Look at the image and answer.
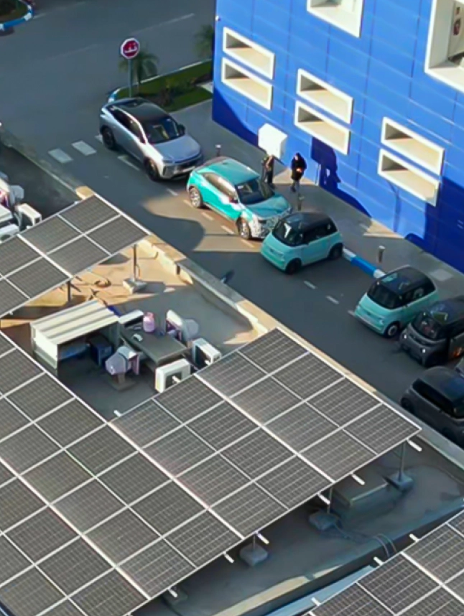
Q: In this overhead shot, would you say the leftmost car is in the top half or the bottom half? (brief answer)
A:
top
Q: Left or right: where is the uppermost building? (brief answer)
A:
right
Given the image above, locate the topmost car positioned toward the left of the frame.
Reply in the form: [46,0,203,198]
[96,98,208,181]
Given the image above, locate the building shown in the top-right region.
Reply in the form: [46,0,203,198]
[210,0,464,288]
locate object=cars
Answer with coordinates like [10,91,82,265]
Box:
[401,356,464,443]
[404,284,464,360]
[260,205,346,274]
[351,262,439,336]
[96,98,208,181]
[183,157,297,241]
